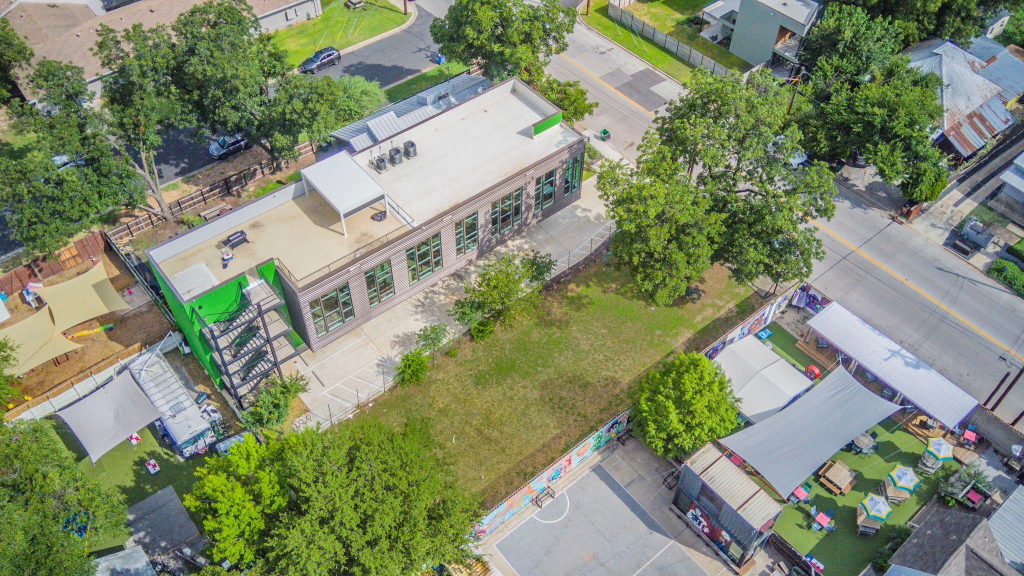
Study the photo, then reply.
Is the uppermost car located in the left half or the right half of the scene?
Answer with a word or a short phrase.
left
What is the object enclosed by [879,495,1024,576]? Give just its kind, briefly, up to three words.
house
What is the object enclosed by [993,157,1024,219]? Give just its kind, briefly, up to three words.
house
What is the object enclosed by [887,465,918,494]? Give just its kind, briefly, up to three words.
umbrella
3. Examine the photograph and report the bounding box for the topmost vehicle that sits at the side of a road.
[298,44,343,74]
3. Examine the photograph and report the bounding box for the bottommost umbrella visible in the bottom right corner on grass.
[860,493,892,523]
